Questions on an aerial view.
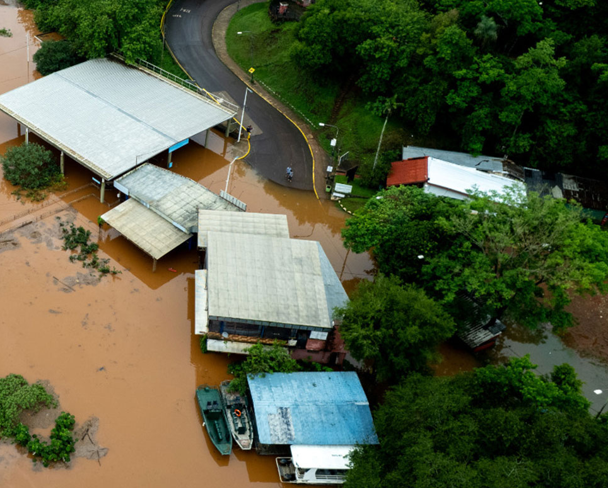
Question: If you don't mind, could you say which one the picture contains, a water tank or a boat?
boat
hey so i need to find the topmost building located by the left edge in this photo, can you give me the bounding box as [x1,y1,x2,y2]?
[0,58,237,204]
